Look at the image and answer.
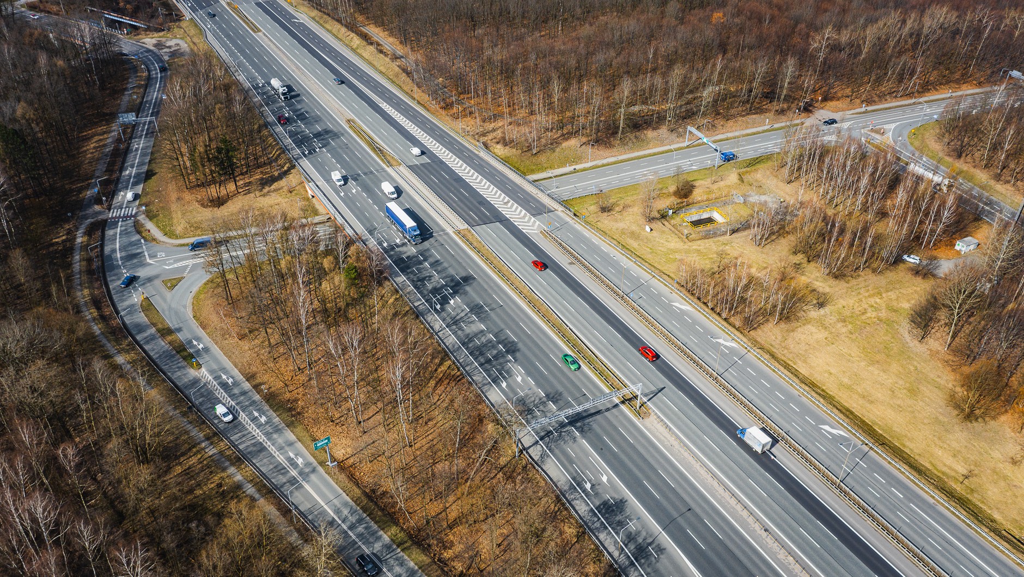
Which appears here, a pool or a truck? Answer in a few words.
truck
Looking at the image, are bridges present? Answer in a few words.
Yes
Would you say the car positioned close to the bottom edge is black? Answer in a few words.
Yes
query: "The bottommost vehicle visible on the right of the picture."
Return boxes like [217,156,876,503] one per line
[731,424,768,455]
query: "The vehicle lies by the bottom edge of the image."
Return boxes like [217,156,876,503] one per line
[352,551,376,576]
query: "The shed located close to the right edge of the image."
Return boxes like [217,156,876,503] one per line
[953,238,982,259]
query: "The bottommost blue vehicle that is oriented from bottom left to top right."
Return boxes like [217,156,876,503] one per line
[118,274,136,286]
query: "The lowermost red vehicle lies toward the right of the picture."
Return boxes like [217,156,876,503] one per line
[638,344,658,360]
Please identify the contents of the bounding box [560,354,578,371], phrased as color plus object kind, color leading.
green car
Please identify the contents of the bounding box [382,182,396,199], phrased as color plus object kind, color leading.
white vehicle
